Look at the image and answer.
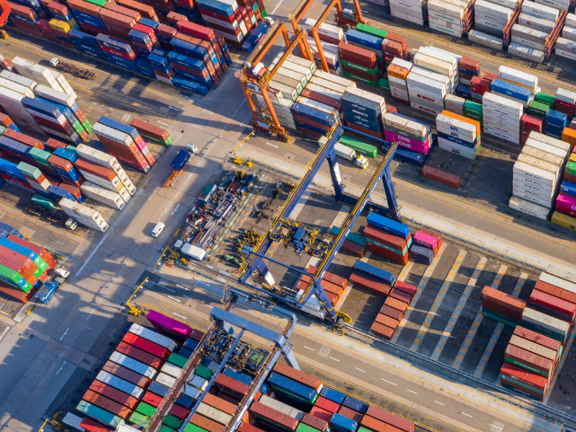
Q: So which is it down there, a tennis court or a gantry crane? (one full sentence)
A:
Looking from above, you can make out a gantry crane.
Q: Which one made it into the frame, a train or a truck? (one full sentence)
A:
Visible in the photo is a truck.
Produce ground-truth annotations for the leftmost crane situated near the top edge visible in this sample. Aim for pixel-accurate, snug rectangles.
[230,15,319,136]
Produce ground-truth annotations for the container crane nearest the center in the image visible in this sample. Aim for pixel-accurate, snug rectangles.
[229,116,409,323]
